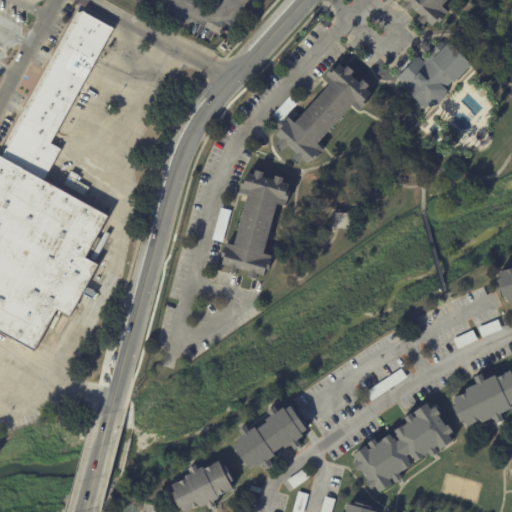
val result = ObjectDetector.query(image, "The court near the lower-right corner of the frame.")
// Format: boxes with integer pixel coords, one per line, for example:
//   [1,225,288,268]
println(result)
[442,474,482,504]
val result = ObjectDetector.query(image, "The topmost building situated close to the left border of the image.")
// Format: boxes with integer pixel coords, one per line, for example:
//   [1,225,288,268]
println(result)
[2,11,114,180]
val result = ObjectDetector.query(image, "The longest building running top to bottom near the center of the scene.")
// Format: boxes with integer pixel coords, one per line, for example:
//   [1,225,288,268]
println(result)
[222,172,291,278]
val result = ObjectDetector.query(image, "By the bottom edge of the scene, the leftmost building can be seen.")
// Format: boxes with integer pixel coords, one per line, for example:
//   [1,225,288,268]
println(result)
[172,462,233,511]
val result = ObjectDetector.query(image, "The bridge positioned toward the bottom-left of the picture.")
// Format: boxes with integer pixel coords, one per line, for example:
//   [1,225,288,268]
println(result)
[67,404,127,512]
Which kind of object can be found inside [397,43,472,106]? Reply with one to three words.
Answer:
building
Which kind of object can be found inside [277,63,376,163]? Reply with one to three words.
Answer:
building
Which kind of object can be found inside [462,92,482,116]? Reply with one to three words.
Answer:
swimming pool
